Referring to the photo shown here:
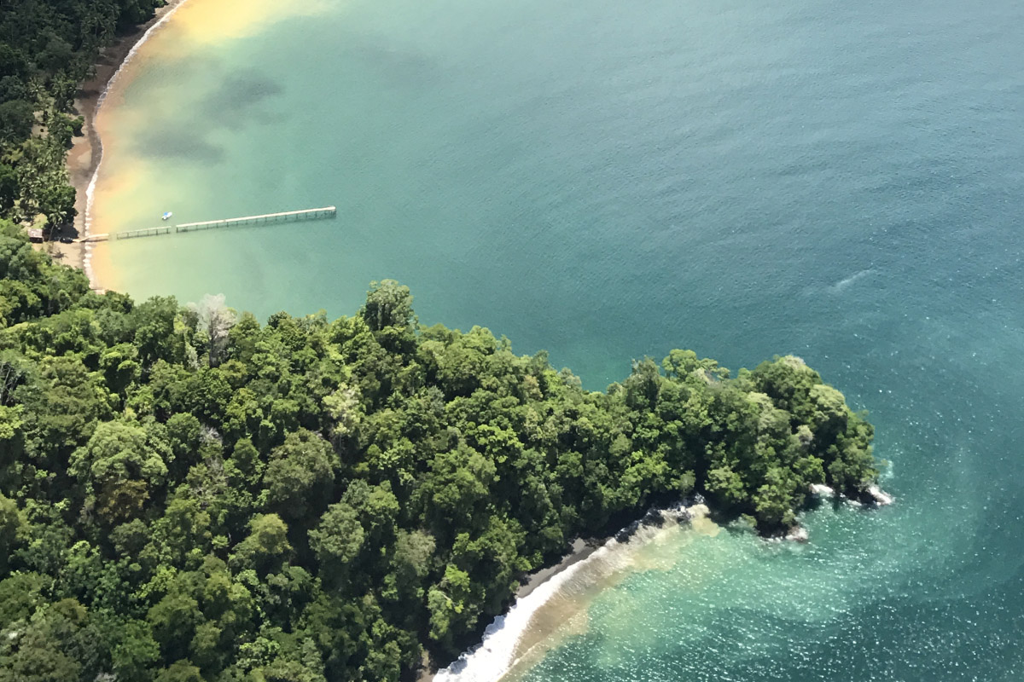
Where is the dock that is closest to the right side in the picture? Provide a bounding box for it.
[176,205,338,233]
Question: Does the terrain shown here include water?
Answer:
Yes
